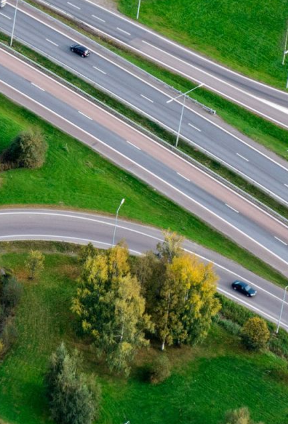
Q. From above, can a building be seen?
No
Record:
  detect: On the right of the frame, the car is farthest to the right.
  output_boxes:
[231,280,258,298]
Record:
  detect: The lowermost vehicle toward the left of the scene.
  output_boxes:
[69,45,92,58]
